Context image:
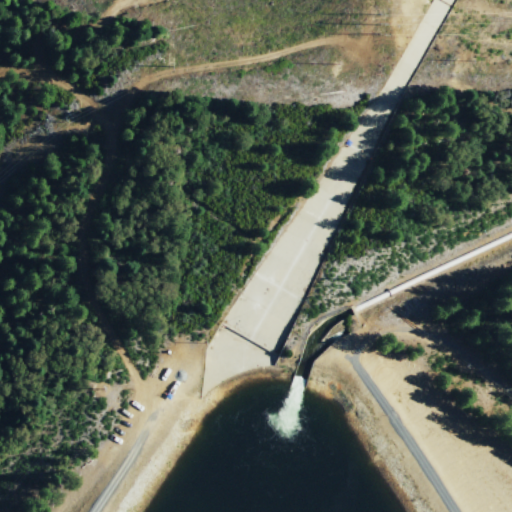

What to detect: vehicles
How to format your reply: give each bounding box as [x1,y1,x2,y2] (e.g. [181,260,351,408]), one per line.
[121,409,134,419]
[110,434,124,444]
[120,420,132,428]
[170,380,180,394]
[162,367,173,382]
[114,427,126,436]
[131,400,145,412]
